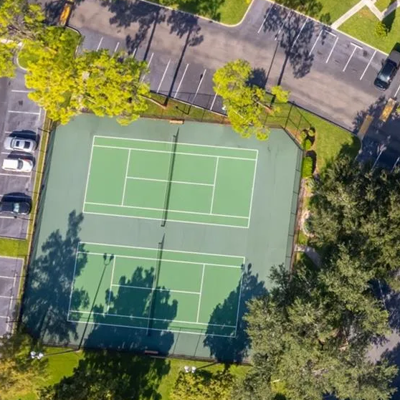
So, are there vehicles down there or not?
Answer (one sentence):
Yes, a vehicle can be made out from above.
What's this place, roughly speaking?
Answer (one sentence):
This looks like a sports ground.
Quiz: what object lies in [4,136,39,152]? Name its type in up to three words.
car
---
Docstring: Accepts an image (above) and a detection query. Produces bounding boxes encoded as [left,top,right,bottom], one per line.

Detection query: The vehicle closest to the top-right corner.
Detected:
[375,48,400,91]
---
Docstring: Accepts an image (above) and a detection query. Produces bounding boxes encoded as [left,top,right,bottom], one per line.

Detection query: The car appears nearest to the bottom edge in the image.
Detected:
[0,199,31,216]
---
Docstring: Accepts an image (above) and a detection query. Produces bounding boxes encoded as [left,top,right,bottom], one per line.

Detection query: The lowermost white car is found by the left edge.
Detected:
[2,157,36,173]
